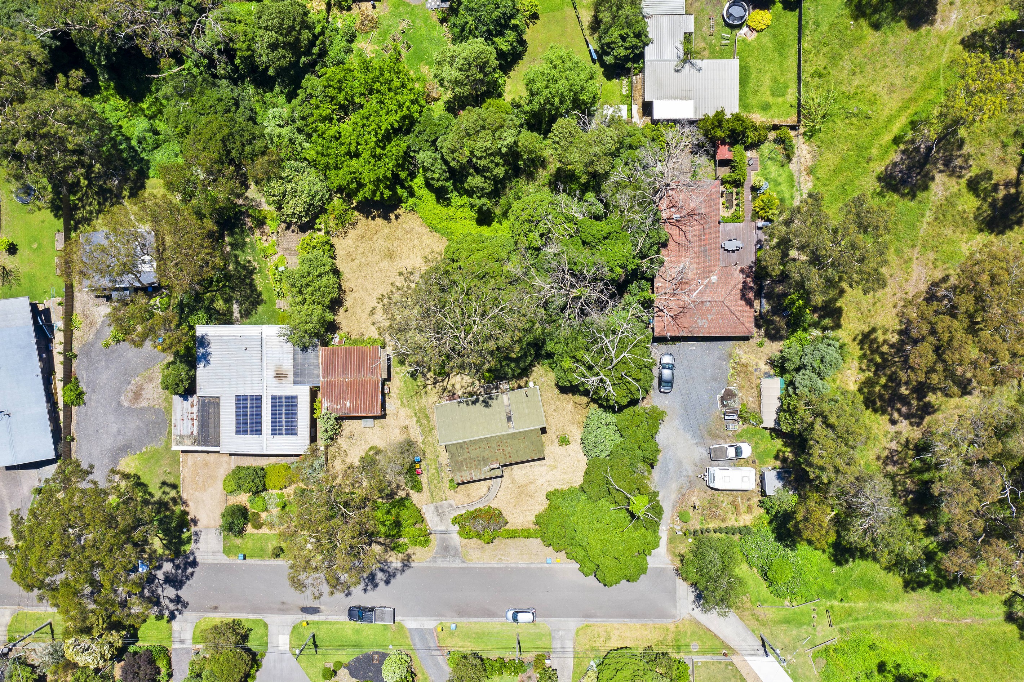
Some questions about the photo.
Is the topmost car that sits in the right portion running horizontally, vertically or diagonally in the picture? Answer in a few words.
vertically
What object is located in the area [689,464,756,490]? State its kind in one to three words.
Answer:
camper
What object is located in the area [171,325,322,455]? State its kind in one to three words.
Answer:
house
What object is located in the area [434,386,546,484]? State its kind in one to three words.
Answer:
house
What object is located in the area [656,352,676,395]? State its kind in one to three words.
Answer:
car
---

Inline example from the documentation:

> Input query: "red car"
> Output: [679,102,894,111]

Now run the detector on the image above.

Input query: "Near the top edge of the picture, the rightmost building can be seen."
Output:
[642,0,739,125]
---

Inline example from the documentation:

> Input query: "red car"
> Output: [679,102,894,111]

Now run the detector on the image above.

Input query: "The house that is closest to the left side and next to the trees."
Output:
[0,296,69,465]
